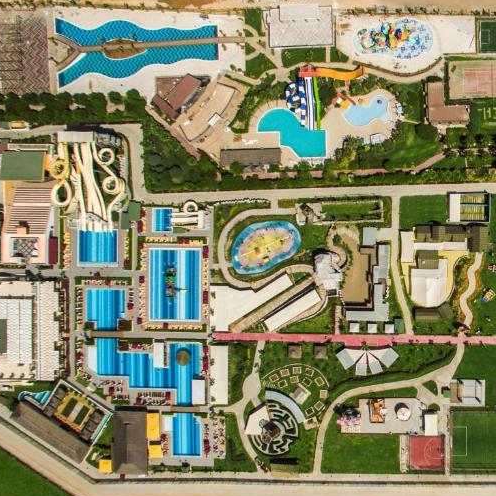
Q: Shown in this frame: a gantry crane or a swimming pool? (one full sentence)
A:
The image shows a swimming pool.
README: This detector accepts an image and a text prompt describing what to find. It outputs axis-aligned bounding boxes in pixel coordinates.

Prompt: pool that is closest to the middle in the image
[231,220,302,275]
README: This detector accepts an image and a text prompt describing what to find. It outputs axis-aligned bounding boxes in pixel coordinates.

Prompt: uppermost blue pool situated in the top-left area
[53,15,218,47]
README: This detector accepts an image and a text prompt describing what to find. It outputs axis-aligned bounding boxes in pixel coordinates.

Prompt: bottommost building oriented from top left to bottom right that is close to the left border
[10,400,93,464]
